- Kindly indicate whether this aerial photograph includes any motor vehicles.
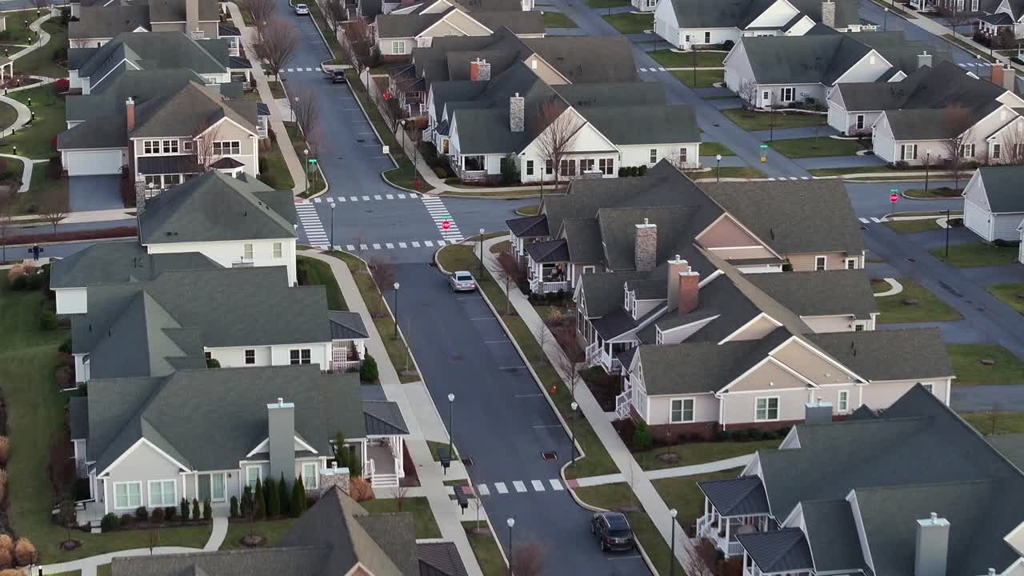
Yes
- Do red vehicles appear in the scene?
No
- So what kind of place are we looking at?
residential area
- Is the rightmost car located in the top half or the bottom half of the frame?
bottom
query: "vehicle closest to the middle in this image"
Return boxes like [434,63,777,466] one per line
[451,271,480,294]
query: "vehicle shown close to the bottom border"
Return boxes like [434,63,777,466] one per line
[590,510,639,554]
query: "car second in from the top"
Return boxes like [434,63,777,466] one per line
[331,72,348,86]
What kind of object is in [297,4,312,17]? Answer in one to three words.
vehicle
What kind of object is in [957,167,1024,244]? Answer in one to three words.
house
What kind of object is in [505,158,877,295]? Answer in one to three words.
house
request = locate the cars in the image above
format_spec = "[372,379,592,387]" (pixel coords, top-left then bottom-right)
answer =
[451,271,480,294]
[331,72,348,86]
[297,4,312,17]
[590,510,639,554]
